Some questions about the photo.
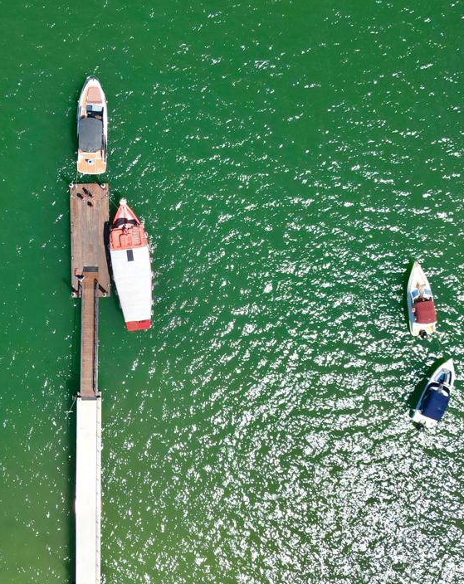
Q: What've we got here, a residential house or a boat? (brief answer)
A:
boat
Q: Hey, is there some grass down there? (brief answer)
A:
No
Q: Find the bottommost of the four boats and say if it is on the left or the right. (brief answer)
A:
right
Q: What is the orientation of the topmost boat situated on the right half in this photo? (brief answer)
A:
vertically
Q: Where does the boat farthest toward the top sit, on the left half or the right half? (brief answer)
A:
left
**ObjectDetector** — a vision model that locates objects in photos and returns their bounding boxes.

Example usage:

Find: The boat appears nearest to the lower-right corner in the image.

[414,358,456,428]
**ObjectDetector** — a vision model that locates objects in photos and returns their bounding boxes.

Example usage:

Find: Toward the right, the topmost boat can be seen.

[407,262,437,339]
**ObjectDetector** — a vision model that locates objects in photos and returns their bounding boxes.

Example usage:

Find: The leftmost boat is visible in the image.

[74,75,110,174]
